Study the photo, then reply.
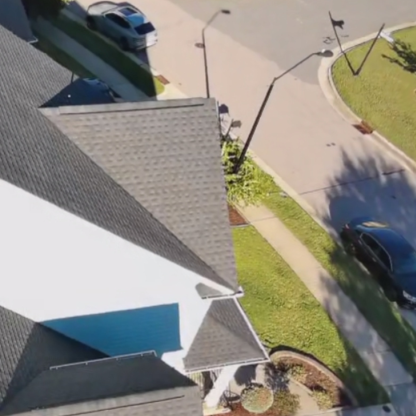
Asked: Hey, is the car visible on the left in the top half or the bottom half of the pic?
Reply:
top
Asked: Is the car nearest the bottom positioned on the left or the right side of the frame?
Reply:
right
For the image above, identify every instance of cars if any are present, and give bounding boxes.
[346,215,416,304]
[81,5,156,50]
